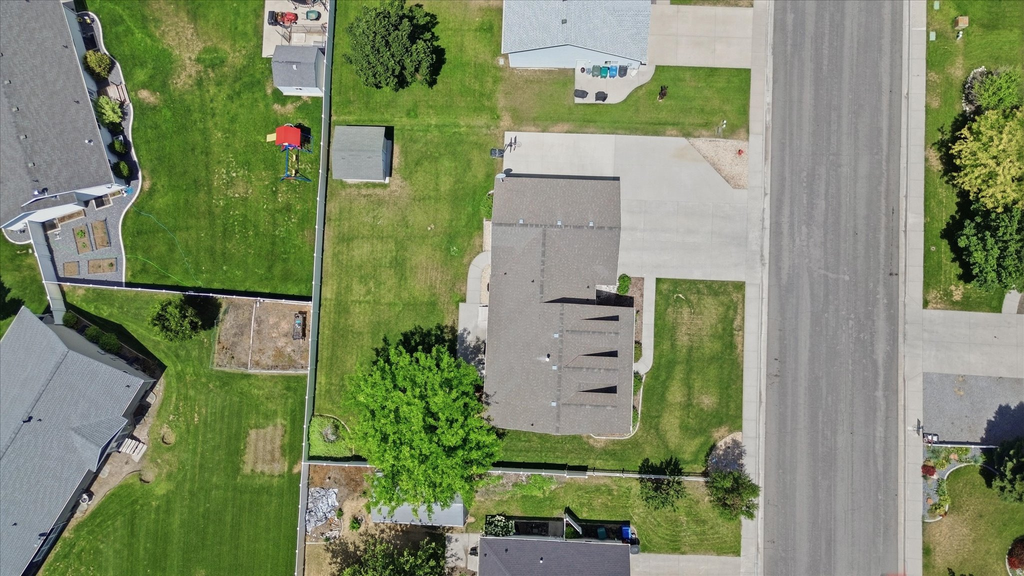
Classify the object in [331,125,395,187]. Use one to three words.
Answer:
shed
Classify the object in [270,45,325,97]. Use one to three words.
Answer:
shed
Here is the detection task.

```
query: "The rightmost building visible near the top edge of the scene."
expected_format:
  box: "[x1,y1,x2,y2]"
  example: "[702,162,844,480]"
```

[500,0,662,72]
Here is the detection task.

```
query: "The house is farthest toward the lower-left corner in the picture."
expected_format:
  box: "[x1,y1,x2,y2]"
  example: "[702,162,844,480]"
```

[0,302,158,576]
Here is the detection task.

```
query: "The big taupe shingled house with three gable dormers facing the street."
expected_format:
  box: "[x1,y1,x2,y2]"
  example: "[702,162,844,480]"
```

[485,171,636,437]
